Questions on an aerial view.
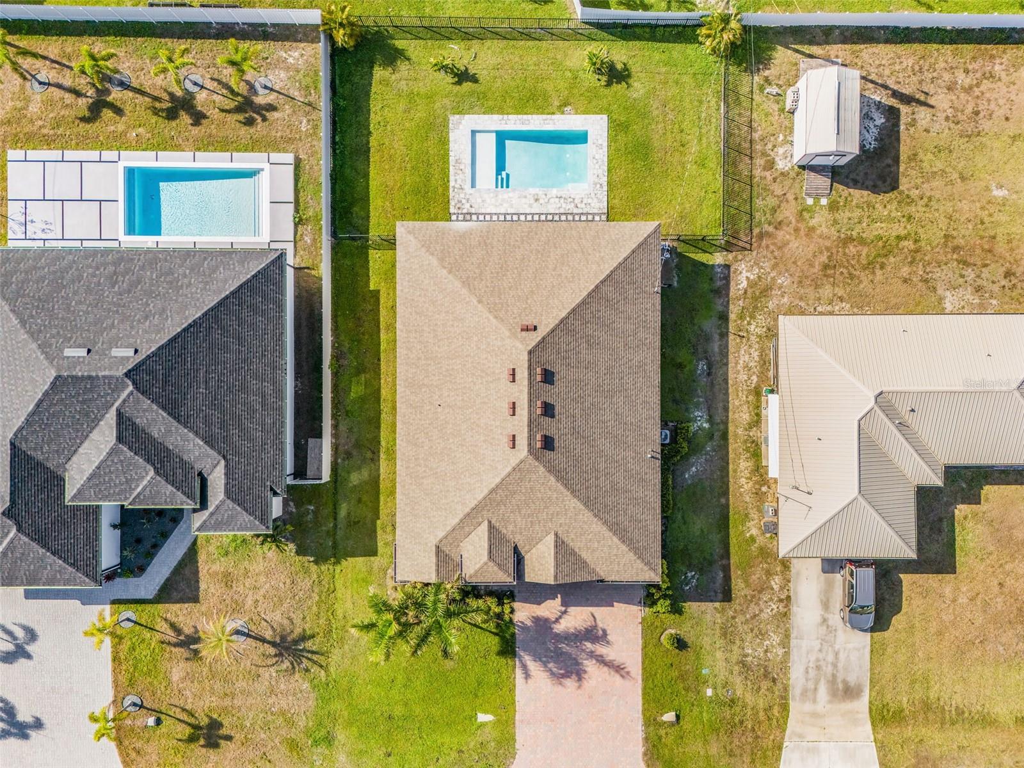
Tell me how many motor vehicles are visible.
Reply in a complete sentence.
The picture shows just 1 motor vehicle.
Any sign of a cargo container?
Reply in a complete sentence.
No, there's no cargo container here.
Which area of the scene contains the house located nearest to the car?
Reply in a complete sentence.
The house located nearest to the car sits in the right section of the image.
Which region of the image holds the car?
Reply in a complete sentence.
Look in the bottom right portion of the view to spot the car.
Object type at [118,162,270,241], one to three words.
swimming pool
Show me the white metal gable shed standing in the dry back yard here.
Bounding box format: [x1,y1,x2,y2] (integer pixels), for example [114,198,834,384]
[791,65,859,165]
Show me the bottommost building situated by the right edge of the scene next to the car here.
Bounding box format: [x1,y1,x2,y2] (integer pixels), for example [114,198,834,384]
[769,312,1024,560]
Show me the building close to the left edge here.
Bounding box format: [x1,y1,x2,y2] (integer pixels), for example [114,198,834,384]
[0,247,294,590]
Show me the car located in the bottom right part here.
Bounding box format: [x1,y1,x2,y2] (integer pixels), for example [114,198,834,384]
[839,558,881,632]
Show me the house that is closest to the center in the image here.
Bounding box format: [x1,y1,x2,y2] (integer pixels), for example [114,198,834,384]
[394,220,662,588]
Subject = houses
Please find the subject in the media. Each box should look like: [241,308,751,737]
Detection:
[0,247,294,590]
[769,312,1024,560]
[394,220,662,588]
